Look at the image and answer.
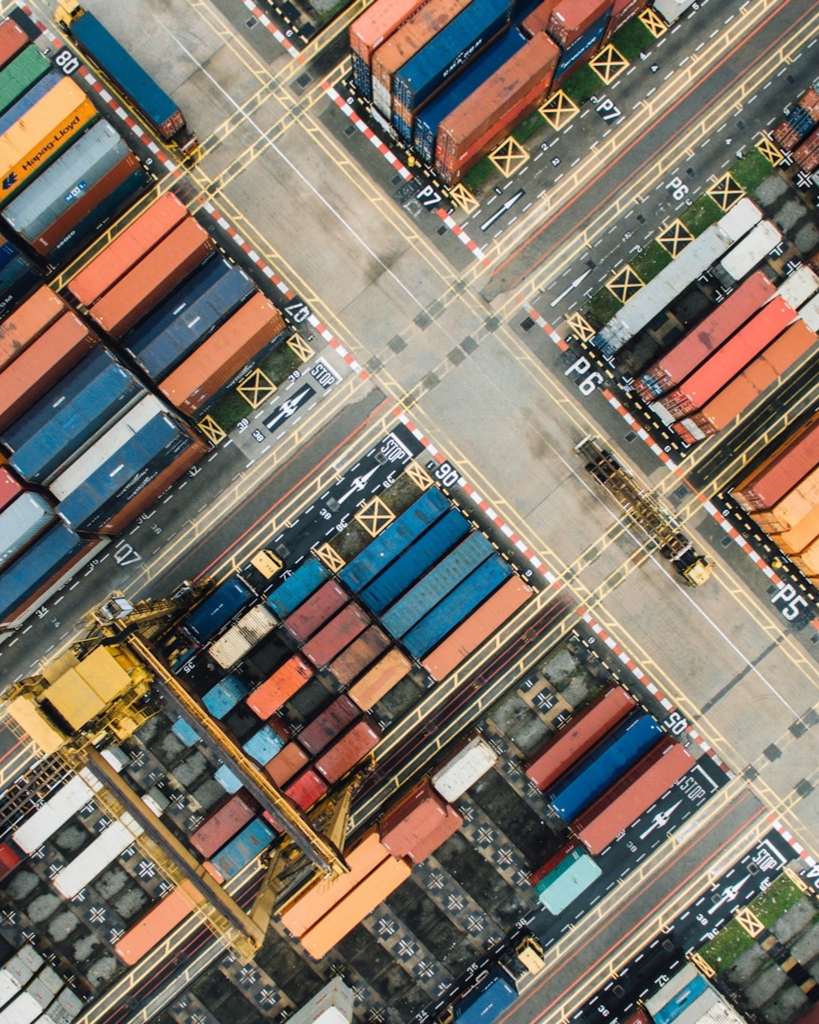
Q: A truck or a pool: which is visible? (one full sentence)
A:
There is a truck in the scene.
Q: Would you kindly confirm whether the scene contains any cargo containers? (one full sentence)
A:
Yes, there is a cargo container in the image.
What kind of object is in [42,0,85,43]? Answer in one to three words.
truck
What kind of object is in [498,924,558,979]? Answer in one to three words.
truck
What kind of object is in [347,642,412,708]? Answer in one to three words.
shipping container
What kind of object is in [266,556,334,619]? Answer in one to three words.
shipping container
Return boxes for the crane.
[2,584,373,973]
